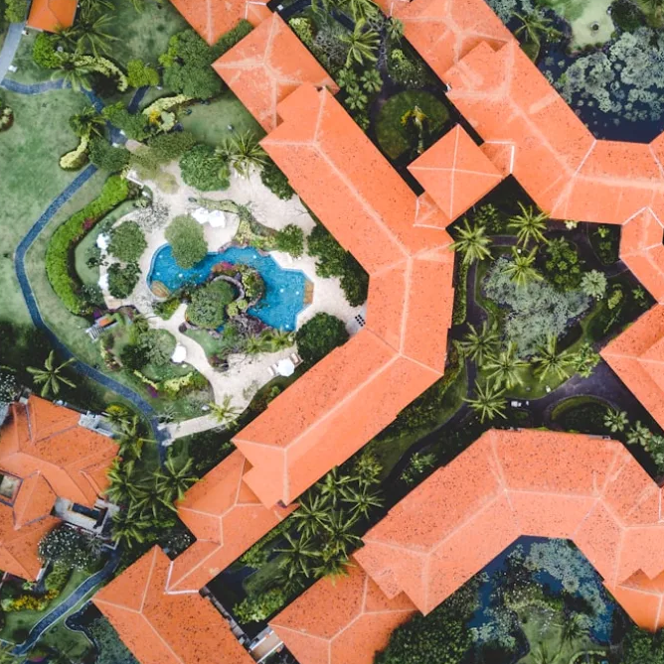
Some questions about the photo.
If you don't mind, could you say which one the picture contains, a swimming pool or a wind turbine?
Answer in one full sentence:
It is a swimming pool that can be seen here.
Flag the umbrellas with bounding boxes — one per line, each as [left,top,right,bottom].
[97,274,111,288]
[96,235,111,249]
[278,359,294,376]
[194,207,210,223]
[173,345,189,361]
[210,211,226,227]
